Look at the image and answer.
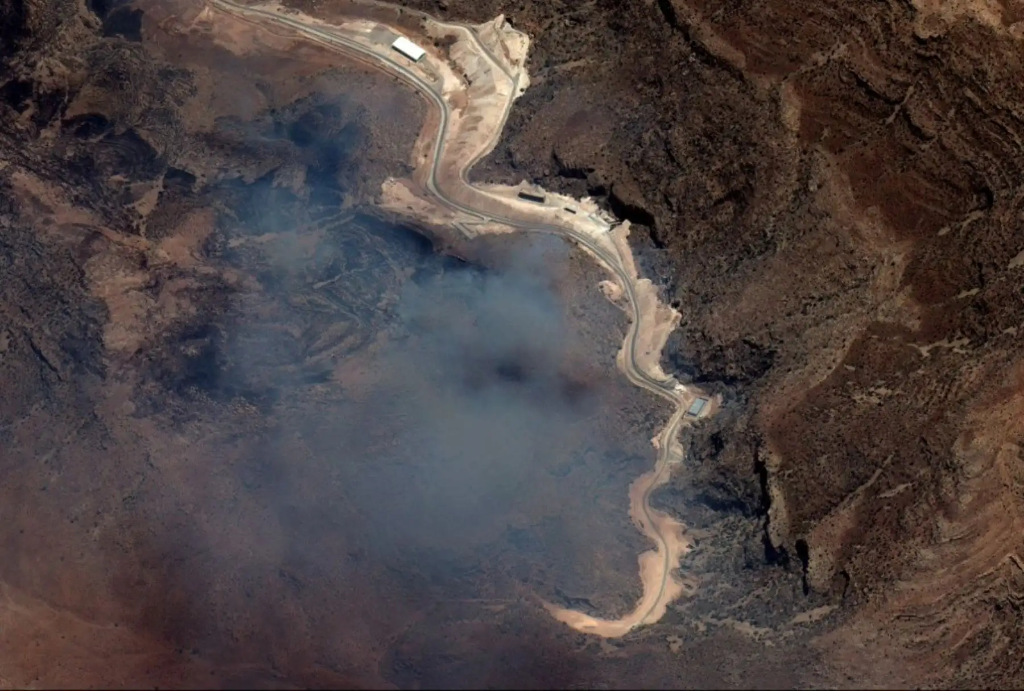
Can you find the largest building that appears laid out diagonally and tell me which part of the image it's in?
top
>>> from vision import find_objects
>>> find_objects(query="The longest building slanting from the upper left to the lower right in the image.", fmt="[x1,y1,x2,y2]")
[393,36,424,60]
